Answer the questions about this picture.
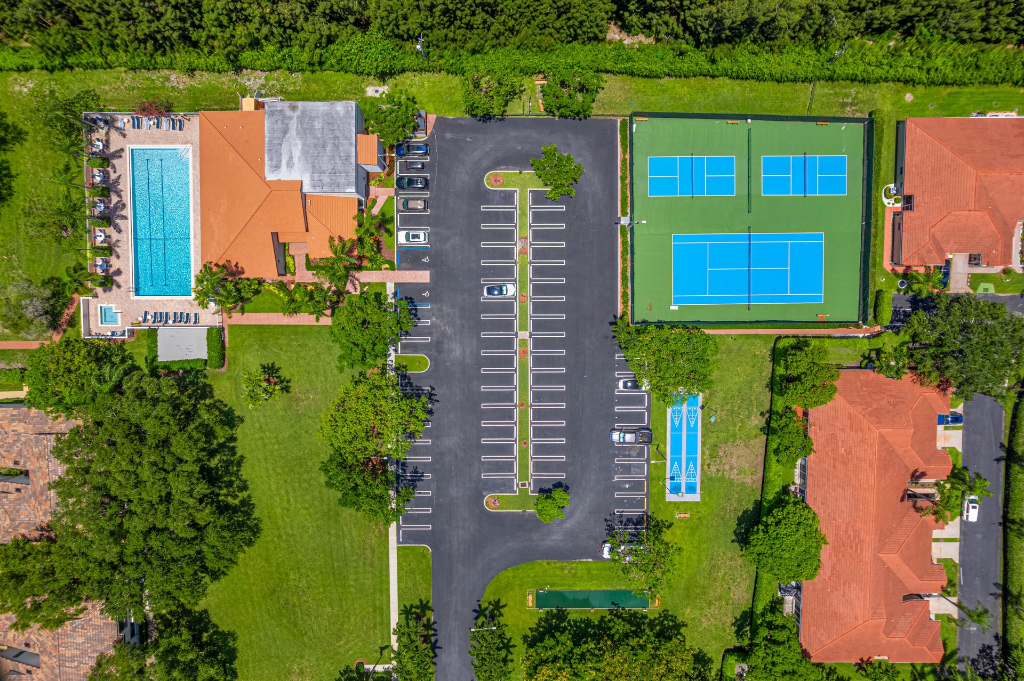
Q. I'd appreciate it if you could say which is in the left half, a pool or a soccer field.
pool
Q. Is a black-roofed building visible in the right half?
No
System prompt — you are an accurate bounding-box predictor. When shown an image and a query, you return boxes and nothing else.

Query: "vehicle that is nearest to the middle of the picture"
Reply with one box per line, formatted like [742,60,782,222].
[484,283,515,298]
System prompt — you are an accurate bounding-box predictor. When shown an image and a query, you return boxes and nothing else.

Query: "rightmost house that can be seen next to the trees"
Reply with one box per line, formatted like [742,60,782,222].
[886,116,1024,267]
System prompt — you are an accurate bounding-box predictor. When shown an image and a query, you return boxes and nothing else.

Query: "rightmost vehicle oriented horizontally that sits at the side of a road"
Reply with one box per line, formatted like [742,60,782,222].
[937,412,967,426]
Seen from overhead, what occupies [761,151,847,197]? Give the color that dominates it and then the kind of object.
blue sports court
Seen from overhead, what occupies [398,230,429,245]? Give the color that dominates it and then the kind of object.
white car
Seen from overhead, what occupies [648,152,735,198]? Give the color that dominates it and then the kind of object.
blue sports court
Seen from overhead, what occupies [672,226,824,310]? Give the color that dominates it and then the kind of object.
blue tennis court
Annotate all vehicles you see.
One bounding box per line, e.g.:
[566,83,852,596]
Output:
[406,160,425,172]
[398,197,427,212]
[484,283,515,298]
[397,175,429,190]
[938,260,954,289]
[397,142,429,158]
[958,493,978,525]
[611,429,652,445]
[398,230,429,245]
[937,412,967,426]
[601,543,640,560]
[618,377,648,392]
